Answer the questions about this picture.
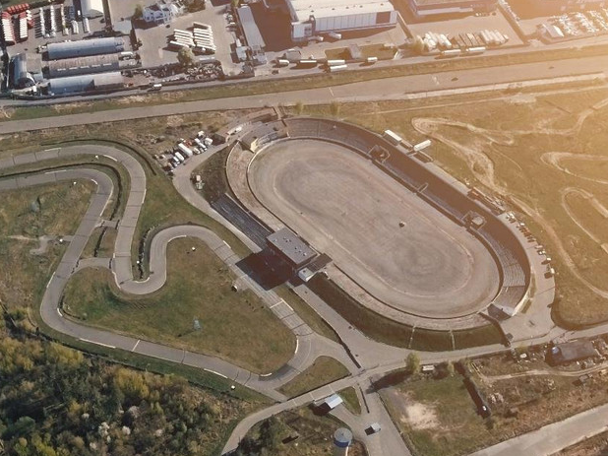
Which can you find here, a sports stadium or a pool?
sports stadium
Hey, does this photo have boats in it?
No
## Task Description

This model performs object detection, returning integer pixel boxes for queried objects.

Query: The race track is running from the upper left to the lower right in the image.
[0,144,358,391]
